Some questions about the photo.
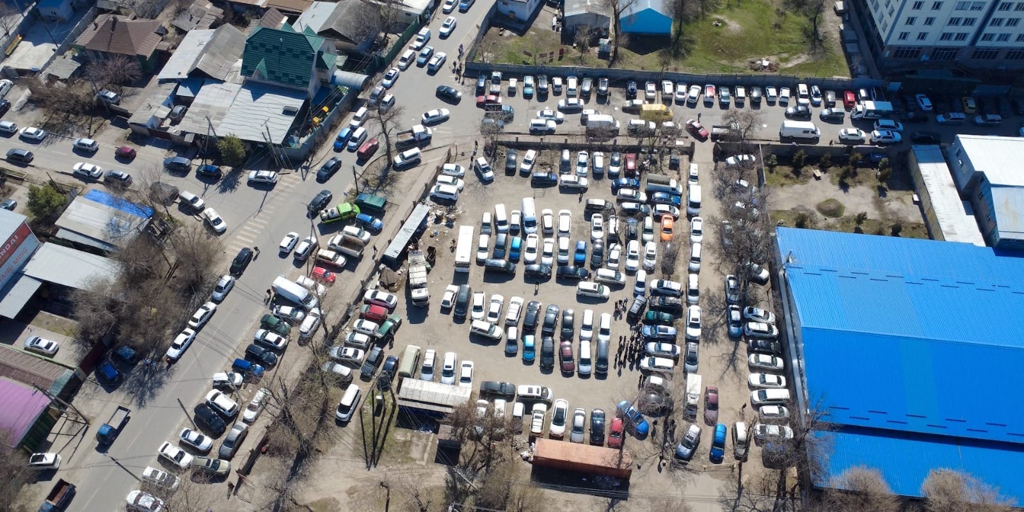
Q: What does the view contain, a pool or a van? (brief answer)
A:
van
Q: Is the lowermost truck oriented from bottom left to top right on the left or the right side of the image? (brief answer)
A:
left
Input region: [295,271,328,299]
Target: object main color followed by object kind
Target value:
white truck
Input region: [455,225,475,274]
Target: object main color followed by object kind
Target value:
white bus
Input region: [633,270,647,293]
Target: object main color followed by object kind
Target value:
white car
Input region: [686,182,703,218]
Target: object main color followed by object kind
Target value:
white vehicle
